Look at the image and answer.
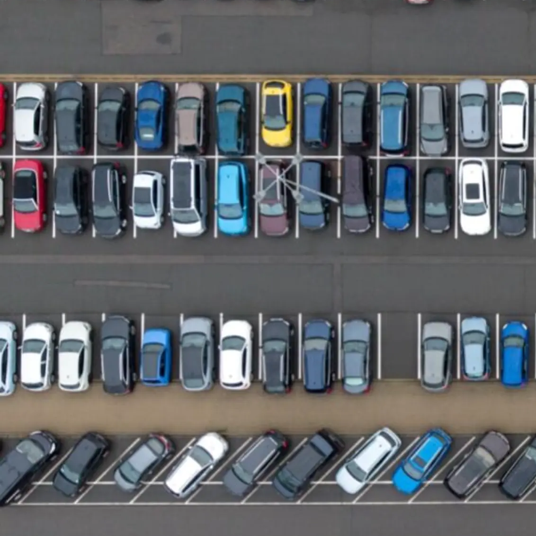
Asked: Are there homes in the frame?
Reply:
No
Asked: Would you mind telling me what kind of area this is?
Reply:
parking lot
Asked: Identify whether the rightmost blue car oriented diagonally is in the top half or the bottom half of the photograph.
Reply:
bottom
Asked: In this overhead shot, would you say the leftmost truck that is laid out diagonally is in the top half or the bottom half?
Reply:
bottom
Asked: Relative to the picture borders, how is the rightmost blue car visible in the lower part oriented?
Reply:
vertically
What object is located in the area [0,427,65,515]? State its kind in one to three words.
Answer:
truck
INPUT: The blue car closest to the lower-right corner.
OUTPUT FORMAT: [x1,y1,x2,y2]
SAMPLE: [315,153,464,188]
[394,425,453,495]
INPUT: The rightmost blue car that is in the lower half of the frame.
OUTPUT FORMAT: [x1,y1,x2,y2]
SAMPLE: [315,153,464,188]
[498,321,530,387]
